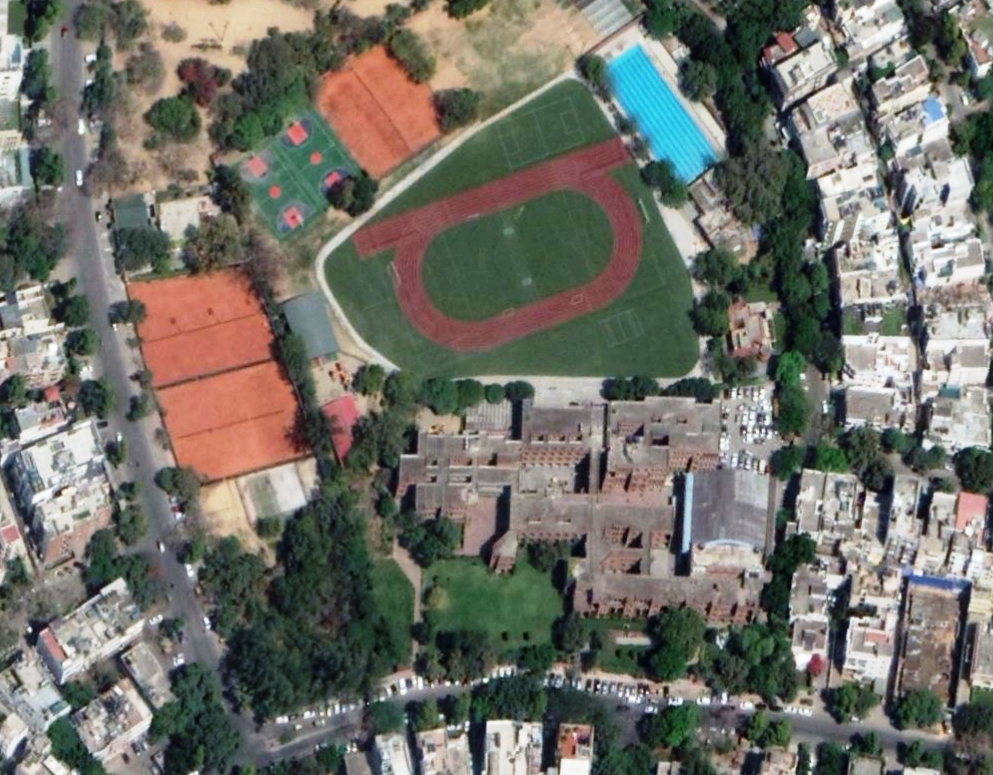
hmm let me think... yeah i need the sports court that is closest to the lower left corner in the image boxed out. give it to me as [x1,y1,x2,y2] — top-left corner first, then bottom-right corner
[239,464,303,524]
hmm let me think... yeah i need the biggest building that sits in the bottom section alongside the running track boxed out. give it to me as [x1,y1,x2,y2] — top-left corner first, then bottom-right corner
[395,398,774,625]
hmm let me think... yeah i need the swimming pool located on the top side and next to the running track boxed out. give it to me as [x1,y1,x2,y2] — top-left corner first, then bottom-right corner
[595,14,733,193]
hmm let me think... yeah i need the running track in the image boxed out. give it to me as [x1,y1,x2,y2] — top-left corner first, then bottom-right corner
[352,137,643,347]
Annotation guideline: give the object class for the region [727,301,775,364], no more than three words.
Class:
house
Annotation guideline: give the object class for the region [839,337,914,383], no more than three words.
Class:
house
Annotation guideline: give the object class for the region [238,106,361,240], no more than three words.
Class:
basketball court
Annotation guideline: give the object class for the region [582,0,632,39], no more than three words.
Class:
shed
